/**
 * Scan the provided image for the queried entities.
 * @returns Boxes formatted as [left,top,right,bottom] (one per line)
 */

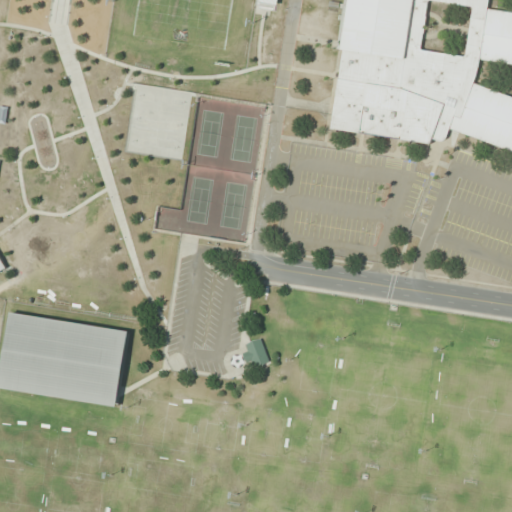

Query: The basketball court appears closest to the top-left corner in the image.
[127,84,192,160]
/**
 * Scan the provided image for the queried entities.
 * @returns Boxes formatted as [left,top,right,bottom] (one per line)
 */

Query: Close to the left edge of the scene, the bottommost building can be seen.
[0,312,130,407]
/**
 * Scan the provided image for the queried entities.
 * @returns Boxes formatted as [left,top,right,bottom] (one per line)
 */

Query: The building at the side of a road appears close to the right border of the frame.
[332,0,512,150]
